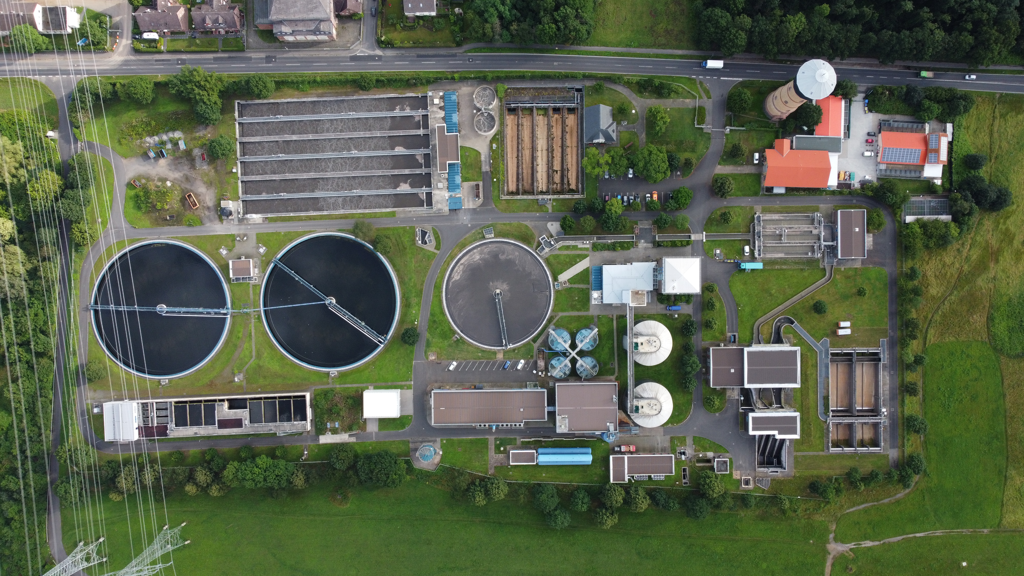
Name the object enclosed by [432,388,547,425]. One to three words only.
building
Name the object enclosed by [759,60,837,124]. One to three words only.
water tower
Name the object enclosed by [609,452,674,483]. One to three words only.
house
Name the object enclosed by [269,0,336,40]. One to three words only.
house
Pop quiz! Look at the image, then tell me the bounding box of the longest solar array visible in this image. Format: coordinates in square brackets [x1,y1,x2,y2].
[882,147,921,163]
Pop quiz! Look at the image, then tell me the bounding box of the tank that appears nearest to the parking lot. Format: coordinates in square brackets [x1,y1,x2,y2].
[499,86,585,199]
